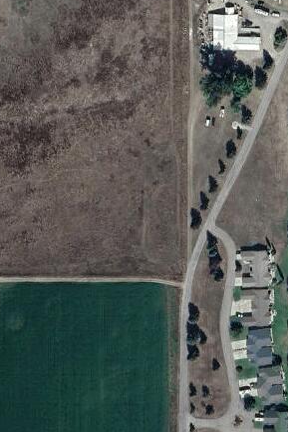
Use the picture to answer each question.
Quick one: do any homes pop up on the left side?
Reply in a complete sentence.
No, no home appears on the left side.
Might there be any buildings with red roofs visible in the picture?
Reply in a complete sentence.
No, I can't see a single building with a red roof in this photo.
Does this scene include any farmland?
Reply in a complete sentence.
Yes, some farmland is visible.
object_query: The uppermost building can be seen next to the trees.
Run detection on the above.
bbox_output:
[209,5,261,50]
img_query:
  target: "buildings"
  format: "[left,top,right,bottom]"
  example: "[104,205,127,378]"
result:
[209,5,261,50]
[240,288,273,325]
[245,326,274,367]
[241,250,273,287]
[264,408,288,432]
[257,367,286,404]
